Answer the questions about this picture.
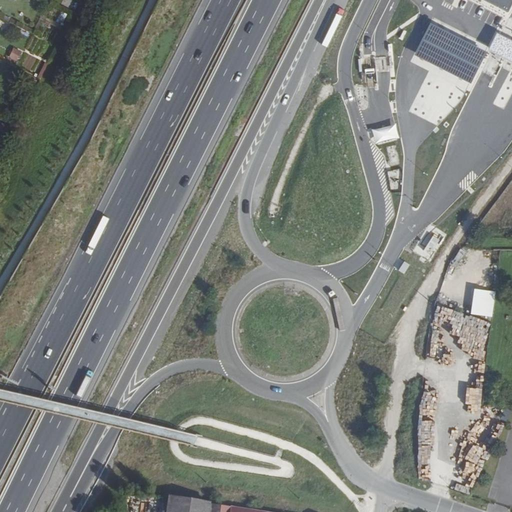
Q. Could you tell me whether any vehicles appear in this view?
Yes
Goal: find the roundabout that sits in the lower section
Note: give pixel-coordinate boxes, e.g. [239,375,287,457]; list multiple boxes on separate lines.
[217,264,352,398]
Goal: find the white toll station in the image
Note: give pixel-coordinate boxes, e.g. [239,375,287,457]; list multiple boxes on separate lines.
[358,44,396,112]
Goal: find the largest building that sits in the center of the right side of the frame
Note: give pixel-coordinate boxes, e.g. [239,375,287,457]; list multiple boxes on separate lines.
[472,289,496,318]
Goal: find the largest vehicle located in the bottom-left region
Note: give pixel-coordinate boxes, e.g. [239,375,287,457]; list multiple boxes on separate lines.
[70,371,94,408]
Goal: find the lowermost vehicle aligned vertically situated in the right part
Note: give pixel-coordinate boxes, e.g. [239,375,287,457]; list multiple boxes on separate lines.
[326,290,343,330]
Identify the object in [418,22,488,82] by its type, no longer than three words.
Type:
building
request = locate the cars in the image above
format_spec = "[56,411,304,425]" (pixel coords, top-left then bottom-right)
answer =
[91,332,100,344]
[44,347,52,358]
[422,2,433,10]
[346,88,354,101]
[244,20,254,34]
[243,200,248,212]
[494,14,504,27]
[270,386,282,392]
[459,0,468,10]
[476,5,484,16]
[166,90,174,102]
[281,94,290,106]
[204,10,213,22]
[365,36,370,46]
[194,48,204,61]
[180,175,190,188]
[234,70,242,82]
